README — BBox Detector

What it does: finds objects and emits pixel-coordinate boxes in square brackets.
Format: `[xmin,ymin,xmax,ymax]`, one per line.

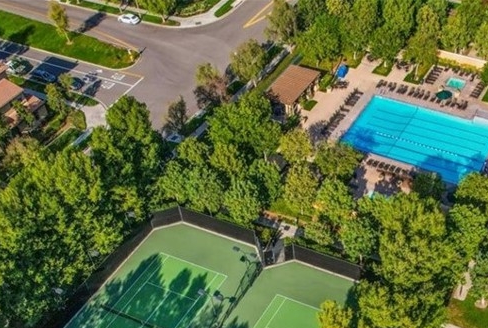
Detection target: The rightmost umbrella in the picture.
[433,90,454,107]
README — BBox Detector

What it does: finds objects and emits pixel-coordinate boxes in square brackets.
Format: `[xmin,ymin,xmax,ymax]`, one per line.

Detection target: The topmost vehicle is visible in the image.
[117,11,140,23]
